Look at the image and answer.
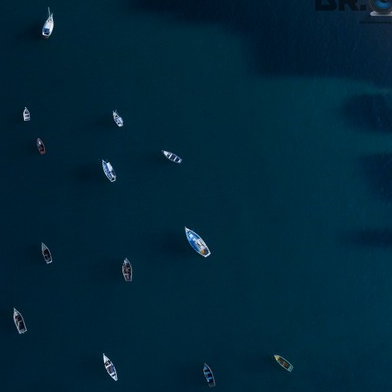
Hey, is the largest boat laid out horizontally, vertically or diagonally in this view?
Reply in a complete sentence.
I'd say the largest boat is aligned diagonally in the picture.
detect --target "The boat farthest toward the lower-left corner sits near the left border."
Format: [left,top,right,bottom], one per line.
[13,308,26,334]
